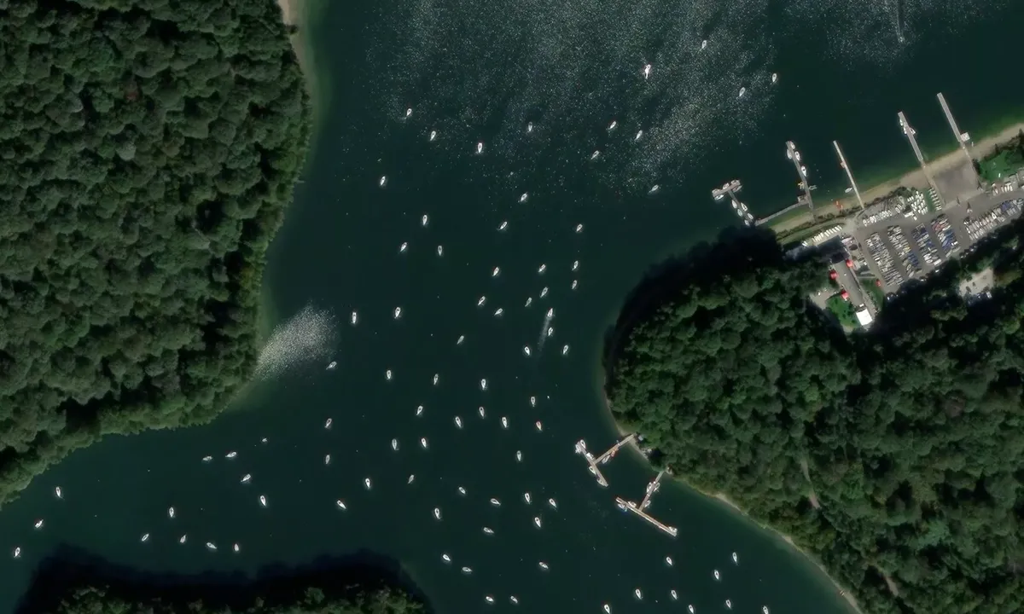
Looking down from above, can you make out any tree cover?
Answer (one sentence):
Yes, tree cover can be seen from above here.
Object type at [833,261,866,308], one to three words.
building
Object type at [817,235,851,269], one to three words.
building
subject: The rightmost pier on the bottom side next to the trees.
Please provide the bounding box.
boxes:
[615,470,676,537]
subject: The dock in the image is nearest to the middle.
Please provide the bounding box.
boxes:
[577,437,631,487]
